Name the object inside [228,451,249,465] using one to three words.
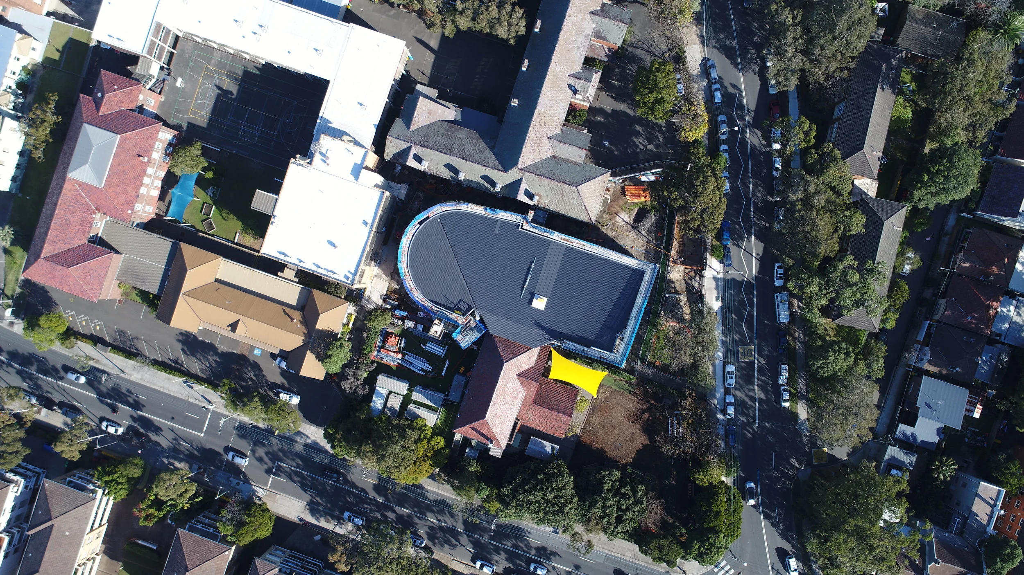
car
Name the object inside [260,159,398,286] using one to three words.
building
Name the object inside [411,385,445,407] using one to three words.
shed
